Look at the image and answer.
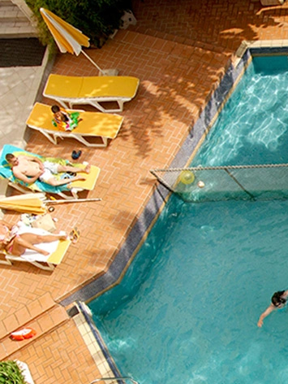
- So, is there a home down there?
No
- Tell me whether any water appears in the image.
Yes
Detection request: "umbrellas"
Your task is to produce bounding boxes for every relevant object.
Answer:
[39,8,116,76]
[0,193,100,216]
